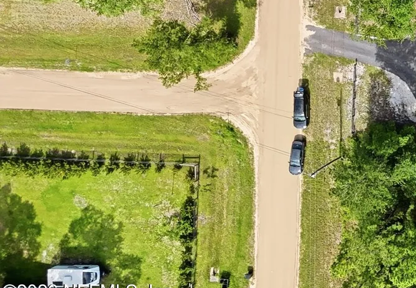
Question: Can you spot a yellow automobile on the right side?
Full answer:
No, no yellow automobile is visible on the right side.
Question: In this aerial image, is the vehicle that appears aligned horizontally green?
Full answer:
No, the vehicle that appears aligned horizontally is white.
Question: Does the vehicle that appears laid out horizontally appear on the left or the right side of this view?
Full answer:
The vehicle that appears laid out horizontally is on the left side of the image.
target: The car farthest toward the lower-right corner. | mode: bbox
[287,139,306,174]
